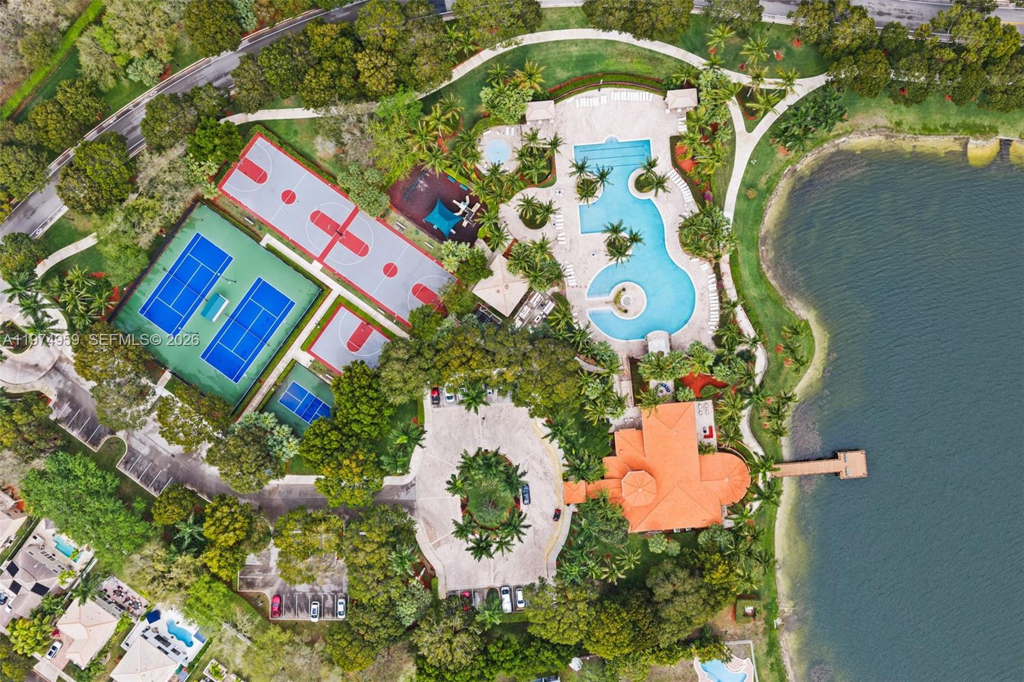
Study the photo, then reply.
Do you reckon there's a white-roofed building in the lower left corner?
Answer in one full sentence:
Yes, there is a white-roofed building in the lower left corner.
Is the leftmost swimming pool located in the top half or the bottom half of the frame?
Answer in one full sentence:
The leftmost swimming pool is in the bottom half of the image.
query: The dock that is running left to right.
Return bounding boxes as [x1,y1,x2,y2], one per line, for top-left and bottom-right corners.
[771,451,870,479]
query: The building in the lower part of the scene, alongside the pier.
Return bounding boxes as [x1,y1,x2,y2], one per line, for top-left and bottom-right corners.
[563,401,753,533]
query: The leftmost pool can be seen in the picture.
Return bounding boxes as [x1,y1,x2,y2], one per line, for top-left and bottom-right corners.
[52,533,82,564]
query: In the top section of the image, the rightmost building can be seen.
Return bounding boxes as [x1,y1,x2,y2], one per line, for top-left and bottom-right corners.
[666,88,698,112]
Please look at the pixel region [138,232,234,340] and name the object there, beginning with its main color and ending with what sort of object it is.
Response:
blue tennis court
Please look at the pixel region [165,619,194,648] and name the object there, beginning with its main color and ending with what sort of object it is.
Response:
blue swimming pool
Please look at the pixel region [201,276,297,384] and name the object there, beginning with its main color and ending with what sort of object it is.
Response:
blue tennis court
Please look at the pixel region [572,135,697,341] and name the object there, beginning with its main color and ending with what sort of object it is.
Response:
blue swimming pool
